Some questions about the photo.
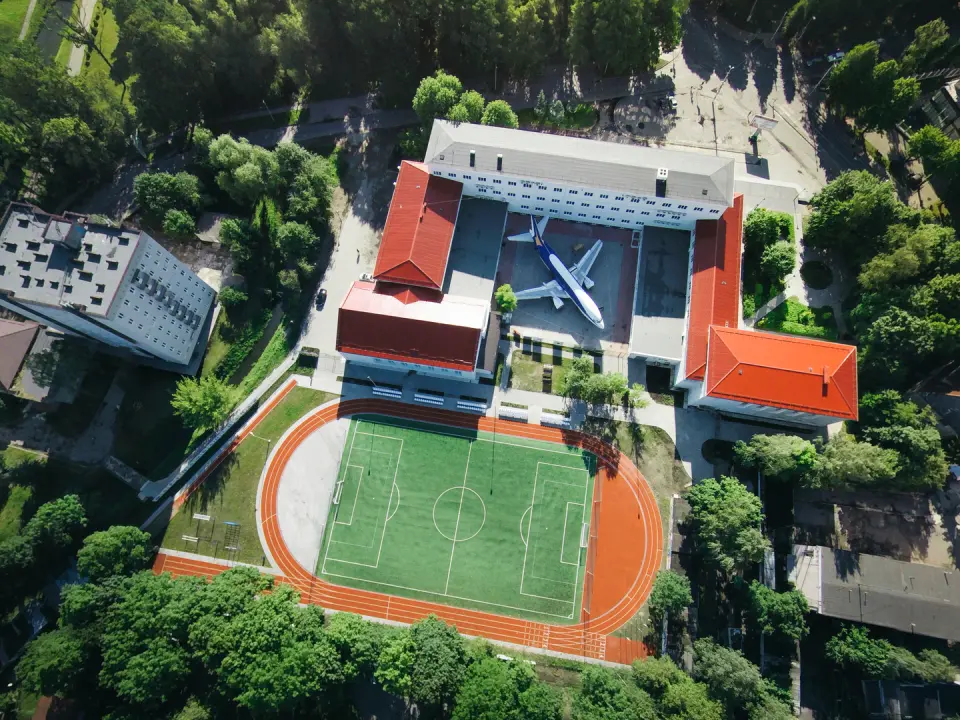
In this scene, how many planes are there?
1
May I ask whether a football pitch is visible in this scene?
Yes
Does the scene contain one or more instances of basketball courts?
No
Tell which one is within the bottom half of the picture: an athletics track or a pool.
athletics track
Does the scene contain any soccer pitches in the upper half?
No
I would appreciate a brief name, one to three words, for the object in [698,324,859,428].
building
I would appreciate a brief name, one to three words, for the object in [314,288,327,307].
vehicle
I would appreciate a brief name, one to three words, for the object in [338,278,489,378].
building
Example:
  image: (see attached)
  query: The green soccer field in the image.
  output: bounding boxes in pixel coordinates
[316,415,597,622]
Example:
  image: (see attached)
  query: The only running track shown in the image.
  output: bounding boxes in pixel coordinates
[152,392,663,666]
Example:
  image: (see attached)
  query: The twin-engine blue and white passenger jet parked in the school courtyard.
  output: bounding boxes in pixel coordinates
[503,215,603,327]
